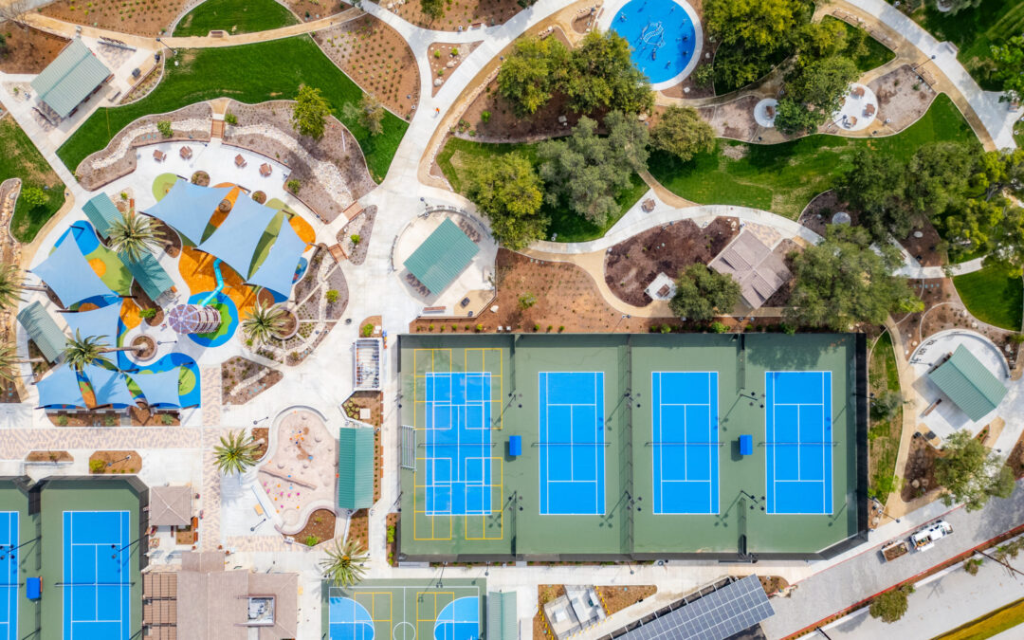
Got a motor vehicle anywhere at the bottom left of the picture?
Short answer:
No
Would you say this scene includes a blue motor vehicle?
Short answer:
No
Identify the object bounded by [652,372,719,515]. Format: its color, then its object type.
blue tennis court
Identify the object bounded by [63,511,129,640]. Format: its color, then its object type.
blue tennis court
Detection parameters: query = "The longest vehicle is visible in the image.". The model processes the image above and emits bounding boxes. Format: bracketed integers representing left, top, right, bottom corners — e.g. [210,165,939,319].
[911,522,958,553]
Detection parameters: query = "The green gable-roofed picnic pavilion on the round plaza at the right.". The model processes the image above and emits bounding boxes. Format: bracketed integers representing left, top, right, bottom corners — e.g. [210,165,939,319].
[924,343,1008,422]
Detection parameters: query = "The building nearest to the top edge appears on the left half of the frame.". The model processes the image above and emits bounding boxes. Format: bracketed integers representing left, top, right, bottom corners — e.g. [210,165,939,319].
[30,37,114,118]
